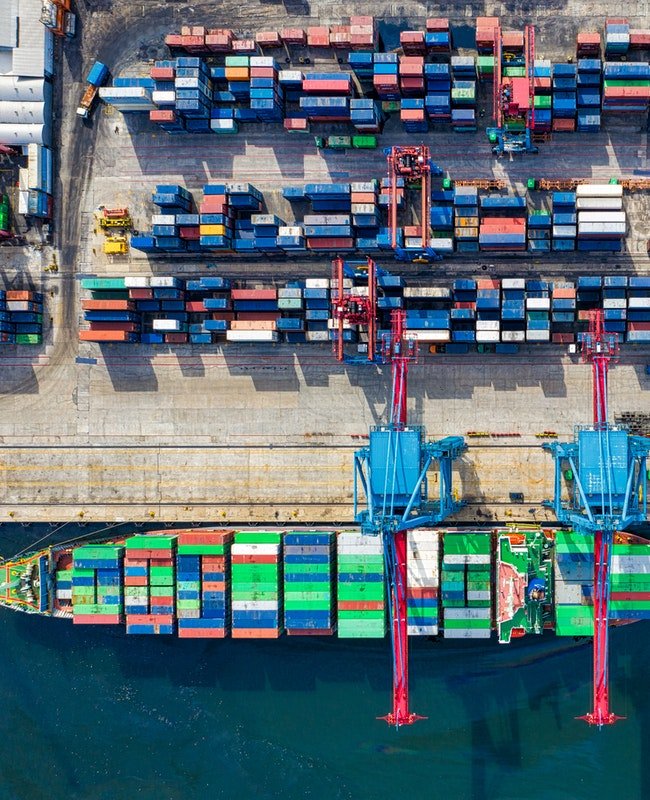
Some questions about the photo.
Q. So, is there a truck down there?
Yes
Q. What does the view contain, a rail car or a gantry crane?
gantry crane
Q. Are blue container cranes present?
Yes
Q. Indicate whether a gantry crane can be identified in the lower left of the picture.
No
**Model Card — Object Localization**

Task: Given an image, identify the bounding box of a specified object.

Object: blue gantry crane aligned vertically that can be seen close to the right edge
[541,308,650,729]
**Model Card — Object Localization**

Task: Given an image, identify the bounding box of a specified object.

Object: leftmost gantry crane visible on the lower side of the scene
[350,307,468,728]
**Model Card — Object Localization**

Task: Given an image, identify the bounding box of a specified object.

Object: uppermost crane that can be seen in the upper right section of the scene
[489,23,541,152]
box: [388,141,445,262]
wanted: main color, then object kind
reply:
red container crane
